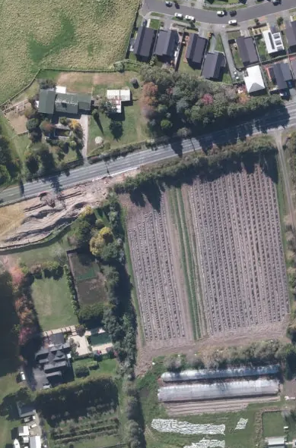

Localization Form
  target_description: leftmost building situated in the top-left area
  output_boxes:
[39,87,92,114]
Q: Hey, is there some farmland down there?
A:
Yes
